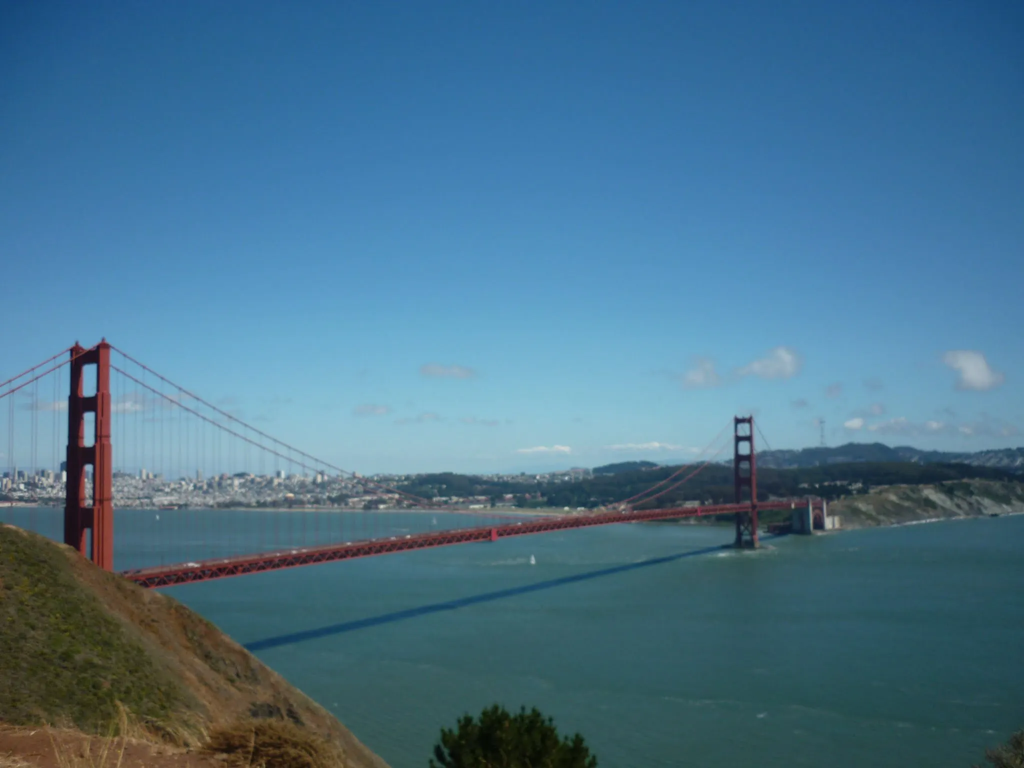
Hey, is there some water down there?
Yes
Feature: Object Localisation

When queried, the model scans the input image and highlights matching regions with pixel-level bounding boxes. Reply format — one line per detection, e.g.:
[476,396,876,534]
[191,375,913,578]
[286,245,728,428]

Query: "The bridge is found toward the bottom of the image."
[0,333,833,590]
